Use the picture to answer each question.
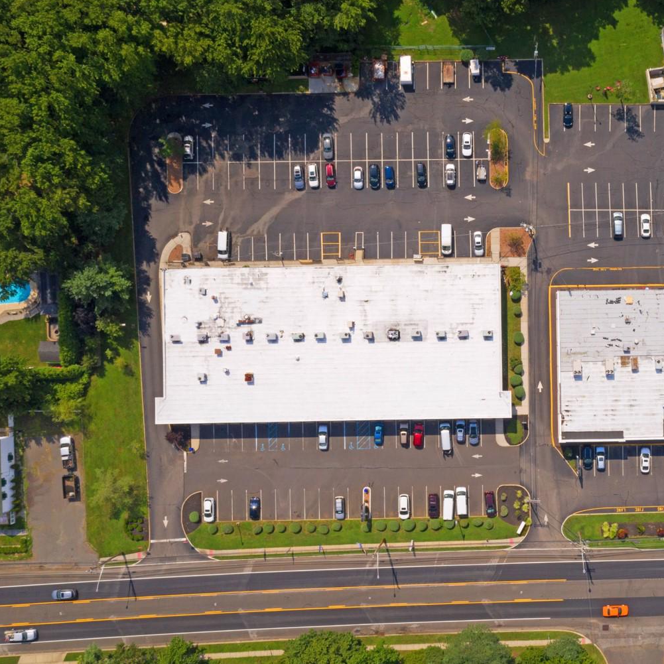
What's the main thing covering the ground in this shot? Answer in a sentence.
The scene is dominated by paved ground.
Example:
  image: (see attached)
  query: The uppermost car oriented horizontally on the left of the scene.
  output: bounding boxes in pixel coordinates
[52,587,80,601]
